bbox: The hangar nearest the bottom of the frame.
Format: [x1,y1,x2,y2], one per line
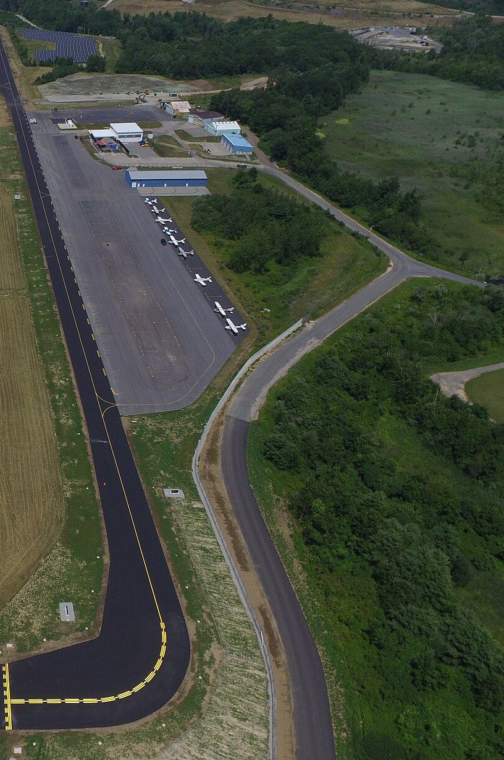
[126,171,210,187]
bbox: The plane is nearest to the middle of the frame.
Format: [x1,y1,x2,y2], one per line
[226,318,249,333]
